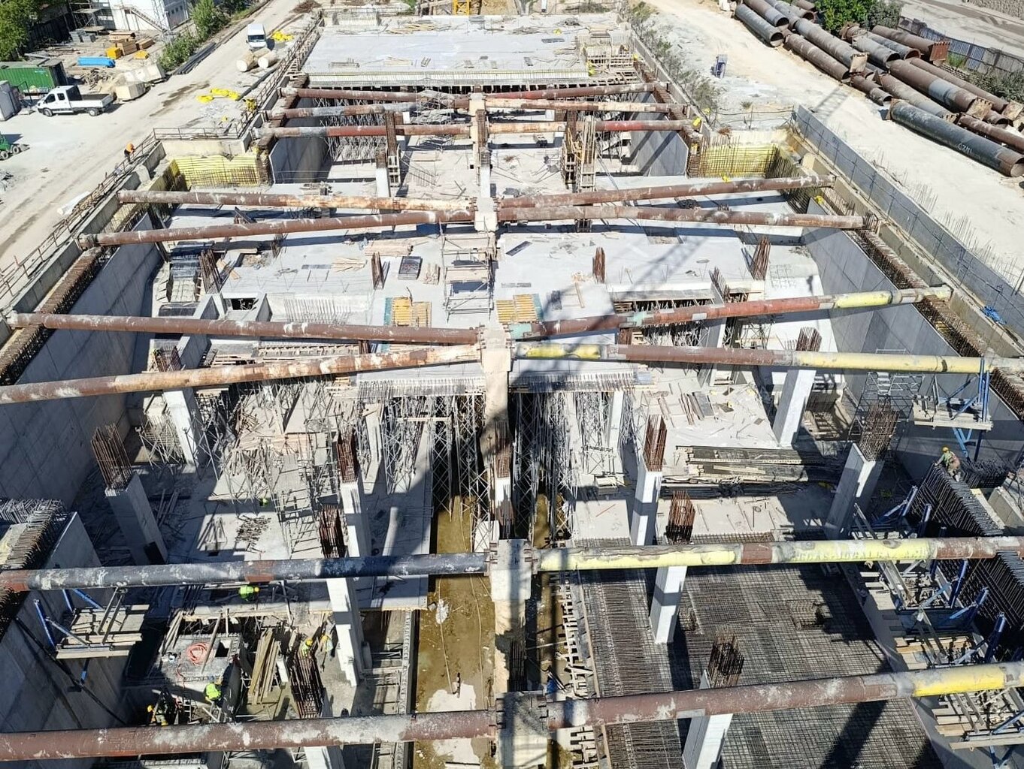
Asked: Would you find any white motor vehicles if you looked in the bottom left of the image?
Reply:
No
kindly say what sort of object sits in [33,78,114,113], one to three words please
truck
